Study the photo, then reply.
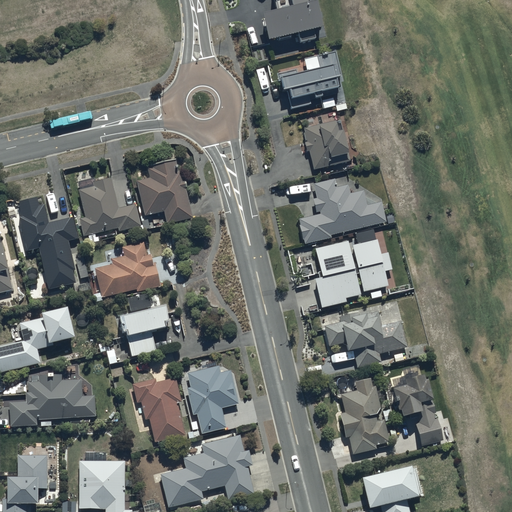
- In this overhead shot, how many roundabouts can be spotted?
1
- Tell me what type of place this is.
residential area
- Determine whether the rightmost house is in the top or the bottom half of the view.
bottom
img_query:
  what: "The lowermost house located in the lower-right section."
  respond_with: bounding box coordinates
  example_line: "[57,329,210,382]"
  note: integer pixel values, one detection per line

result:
[364,466,421,512]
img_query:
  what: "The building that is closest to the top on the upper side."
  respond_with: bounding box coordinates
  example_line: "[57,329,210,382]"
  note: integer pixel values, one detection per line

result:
[265,0,324,42]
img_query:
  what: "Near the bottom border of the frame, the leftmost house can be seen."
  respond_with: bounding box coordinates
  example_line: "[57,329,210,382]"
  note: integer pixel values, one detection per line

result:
[1,455,48,512]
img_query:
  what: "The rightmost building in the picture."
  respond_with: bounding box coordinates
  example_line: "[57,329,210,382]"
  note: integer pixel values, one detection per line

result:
[394,375,444,448]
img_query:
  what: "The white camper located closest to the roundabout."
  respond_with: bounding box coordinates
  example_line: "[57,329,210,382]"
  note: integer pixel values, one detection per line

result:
[256,66,270,94]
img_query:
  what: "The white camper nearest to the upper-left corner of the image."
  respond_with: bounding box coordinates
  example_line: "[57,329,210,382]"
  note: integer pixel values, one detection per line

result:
[46,190,58,213]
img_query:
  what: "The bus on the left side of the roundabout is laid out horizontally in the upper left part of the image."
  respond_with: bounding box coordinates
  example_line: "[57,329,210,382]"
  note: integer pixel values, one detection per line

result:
[49,108,94,129]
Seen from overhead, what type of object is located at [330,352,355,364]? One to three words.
vehicle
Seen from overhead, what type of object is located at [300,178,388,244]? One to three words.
house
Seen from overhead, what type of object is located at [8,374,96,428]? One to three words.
house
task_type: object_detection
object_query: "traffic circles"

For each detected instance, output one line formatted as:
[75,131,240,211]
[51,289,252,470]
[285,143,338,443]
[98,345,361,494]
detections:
[160,56,242,148]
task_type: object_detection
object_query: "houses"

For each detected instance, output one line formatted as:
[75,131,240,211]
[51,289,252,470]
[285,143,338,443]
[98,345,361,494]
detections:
[265,0,324,42]
[136,159,190,222]
[160,435,254,509]
[18,196,78,290]
[133,378,188,442]
[364,466,421,512]
[278,50,342,109]
[394,375,444,448]
[95,242,161,296]
[118,304,169,357]
[326,310,409,372]
[304,121,352,170]
[0,238,12,294]
[8,374,96,428]
[340,378,392,453]
[78,461,125,512]
[188,366,238,434]
[0,306,74,372]
[78,176,140,238]
[1,455,48,512]
[300,178,388,244]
